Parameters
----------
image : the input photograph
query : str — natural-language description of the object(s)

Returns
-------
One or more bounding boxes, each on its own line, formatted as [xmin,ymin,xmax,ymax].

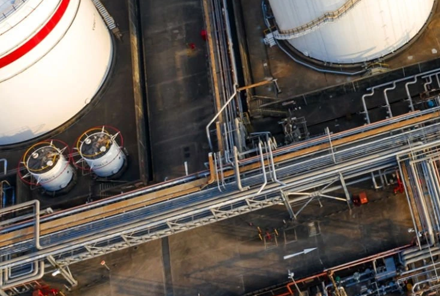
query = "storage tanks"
[0,0,125,153]
[74,126,131,183]
[269,0,439,67]
[20,139,79,197]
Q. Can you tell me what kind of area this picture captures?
industrial area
